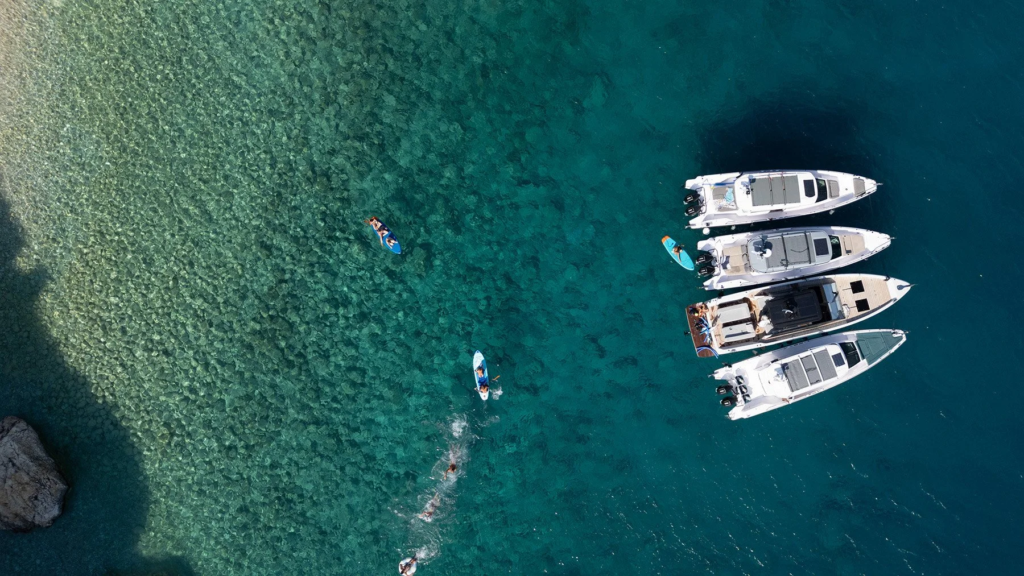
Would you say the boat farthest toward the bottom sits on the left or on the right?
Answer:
right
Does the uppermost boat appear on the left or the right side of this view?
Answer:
right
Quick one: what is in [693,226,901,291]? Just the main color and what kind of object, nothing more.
white boat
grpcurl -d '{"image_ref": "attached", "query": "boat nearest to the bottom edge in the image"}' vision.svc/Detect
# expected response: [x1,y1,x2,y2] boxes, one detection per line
[711,329,915,418]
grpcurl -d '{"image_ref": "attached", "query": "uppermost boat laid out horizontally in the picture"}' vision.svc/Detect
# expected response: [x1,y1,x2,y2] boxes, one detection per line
[680,170,886,232]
